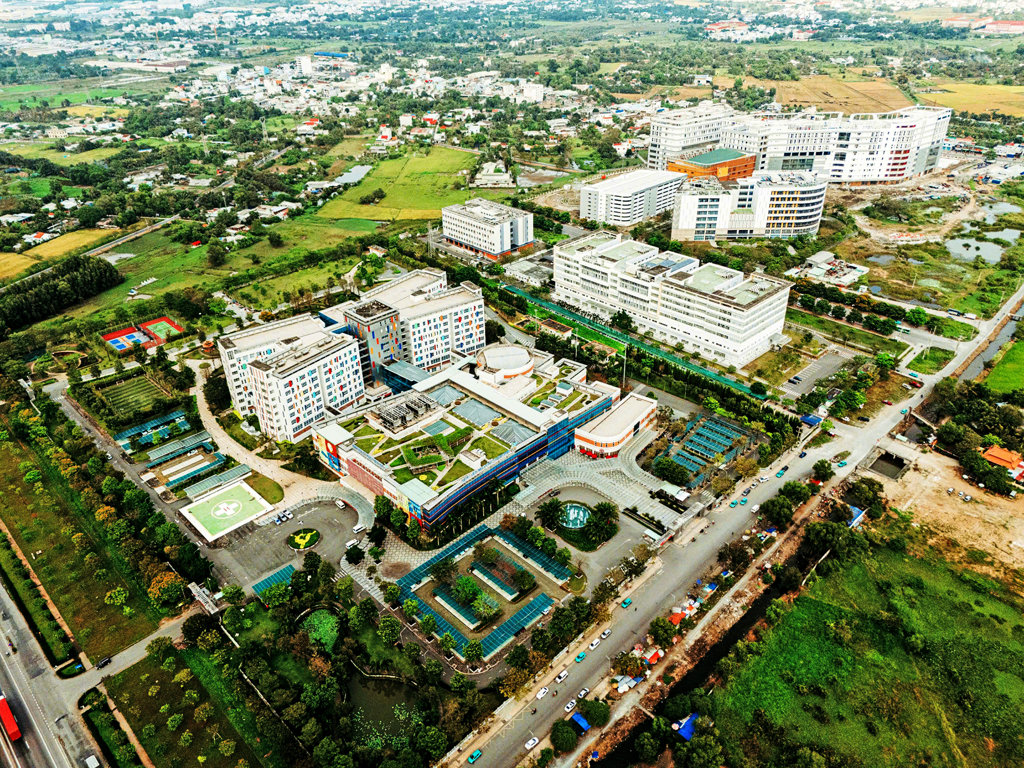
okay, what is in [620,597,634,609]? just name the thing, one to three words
vehicle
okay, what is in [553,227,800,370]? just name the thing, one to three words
building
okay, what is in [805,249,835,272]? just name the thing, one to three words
shed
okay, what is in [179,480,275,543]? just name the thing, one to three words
helipad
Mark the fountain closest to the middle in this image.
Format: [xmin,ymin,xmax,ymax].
[558,503,592,527]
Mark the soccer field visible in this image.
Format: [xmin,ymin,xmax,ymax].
[95,374,174,417]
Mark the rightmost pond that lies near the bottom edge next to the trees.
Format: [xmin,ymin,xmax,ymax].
[347,677,425,749]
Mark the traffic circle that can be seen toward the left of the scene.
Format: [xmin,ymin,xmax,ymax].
[285,526,323,552]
